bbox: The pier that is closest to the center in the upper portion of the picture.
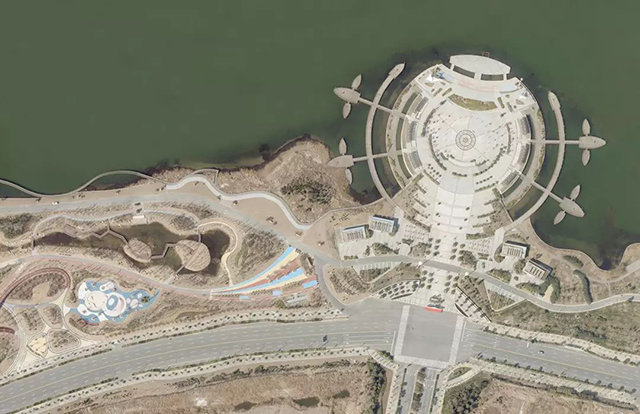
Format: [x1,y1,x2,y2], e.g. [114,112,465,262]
[328,138,388,184]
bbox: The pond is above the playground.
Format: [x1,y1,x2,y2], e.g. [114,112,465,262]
[34,221,230,275]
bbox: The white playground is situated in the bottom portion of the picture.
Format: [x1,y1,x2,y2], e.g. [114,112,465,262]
[69,281,160,323]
